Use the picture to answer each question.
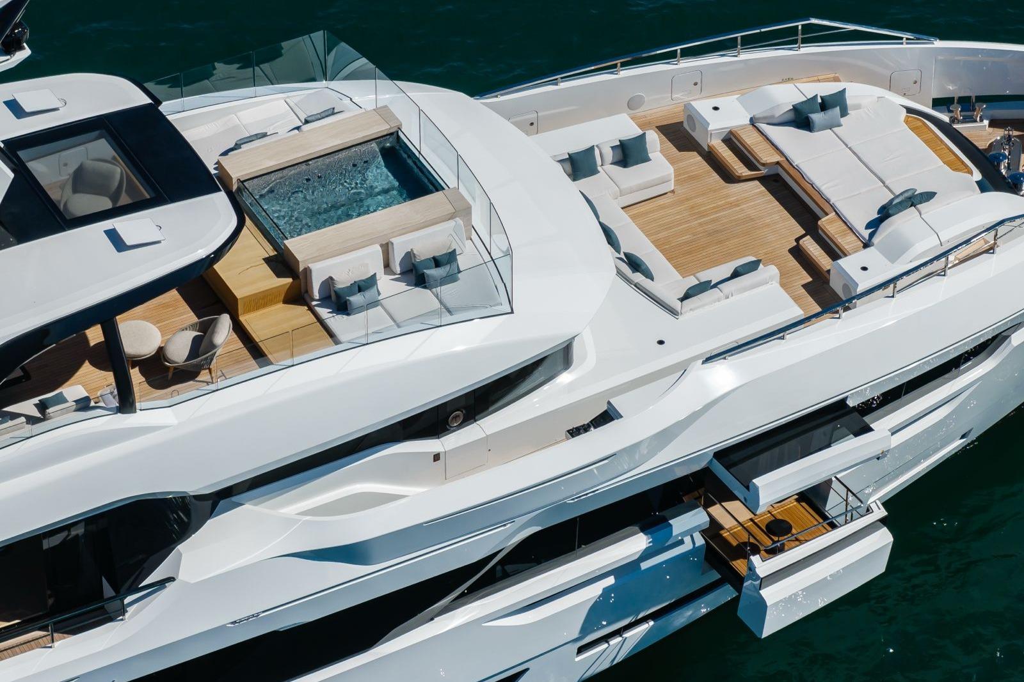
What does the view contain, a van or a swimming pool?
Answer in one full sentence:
The image shows a swimming pool.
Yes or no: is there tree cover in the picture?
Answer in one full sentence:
No, there's no tree cover in this view.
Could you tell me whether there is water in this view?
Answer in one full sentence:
Yes, water can be seen from above here.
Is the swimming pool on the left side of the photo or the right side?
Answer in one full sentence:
The swimming pool appears in the left half of the scene.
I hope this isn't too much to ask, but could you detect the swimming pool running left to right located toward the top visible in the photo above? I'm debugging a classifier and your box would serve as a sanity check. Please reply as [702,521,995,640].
[242,135,451,242]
